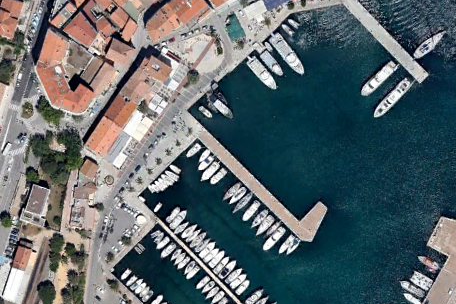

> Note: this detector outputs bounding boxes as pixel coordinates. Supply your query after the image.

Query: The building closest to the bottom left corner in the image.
[3,268,26,302]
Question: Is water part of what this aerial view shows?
Yes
